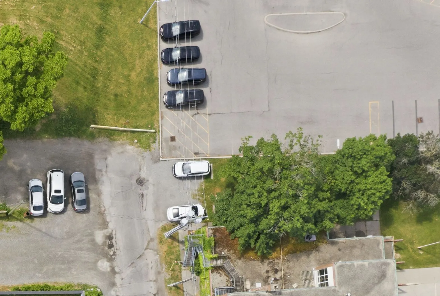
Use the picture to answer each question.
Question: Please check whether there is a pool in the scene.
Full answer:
No, I find no pool anywhere in the image.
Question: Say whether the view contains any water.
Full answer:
No, there's no water in this view.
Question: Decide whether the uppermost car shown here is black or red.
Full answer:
The uppermost car looks black in the image.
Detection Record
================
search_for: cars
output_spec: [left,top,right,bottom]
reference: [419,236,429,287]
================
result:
[68,172,88,214]
[163,65,207,88]
[160,87,205,111]
[158,46,200,67]
[157,19,201,42]
[168,158,213,180]
[45,169,66,214]
[164,203,206,222]
[27,178,45,219]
